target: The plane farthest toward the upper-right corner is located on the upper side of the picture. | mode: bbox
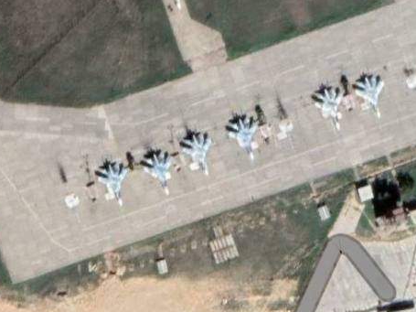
[355,73,384,118]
